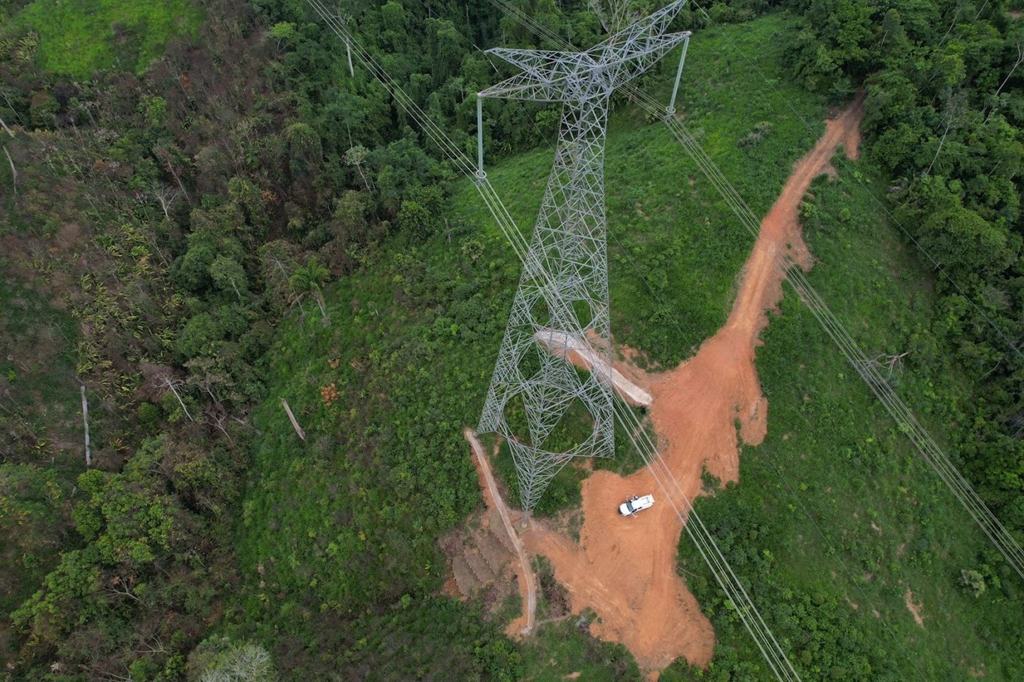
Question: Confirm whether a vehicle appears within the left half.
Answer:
No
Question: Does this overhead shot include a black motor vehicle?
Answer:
No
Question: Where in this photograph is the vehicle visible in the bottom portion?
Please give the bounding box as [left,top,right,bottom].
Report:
[617,493,655,518]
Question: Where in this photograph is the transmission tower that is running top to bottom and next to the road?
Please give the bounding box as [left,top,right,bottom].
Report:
[475,0,691,520]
